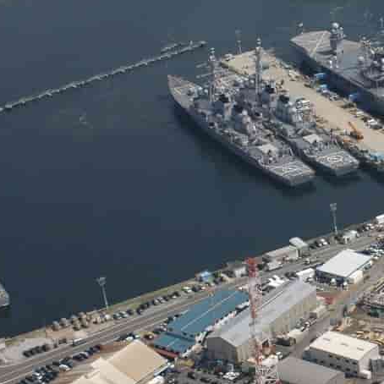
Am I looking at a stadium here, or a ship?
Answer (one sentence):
The one in the frame is a ship.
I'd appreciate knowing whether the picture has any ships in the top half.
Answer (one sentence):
Yes, you'll find a ship in the top half.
